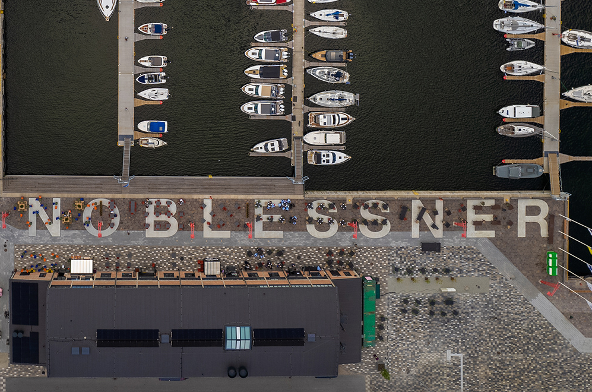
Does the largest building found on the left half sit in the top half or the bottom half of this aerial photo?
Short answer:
bottom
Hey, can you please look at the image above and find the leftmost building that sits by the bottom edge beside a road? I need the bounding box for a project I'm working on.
[10,270,362,380]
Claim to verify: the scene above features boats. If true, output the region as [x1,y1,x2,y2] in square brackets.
[561,87,592,102]
[255,28,293,42]
[502,38,534,50]
[241,81,289,98]
[138,21,171,36]
[304,130,346,146]
[560,29,592,50]
[307,90,357,107]
[495,104,542,119]
[247,0,290,7]
[245,46,292,62]
[308,24,347,39]
[137,87,169,100]
[492,163,544,179]
[241,99,288,116]
[496,0,555,13]
[307,148,354,165]
[313,48,356,62]
[139,136,167,148]
[307,110,357,127]
[497,59,558,77]
[136,71,170,85]
[494,121,559,139]
[138,55,172,68]
[491,16,554,35]
[245,65,290,80]
[249,137,289,153]
[312,8,348,22]
[137,119,168,133]
[306,65,352,82]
